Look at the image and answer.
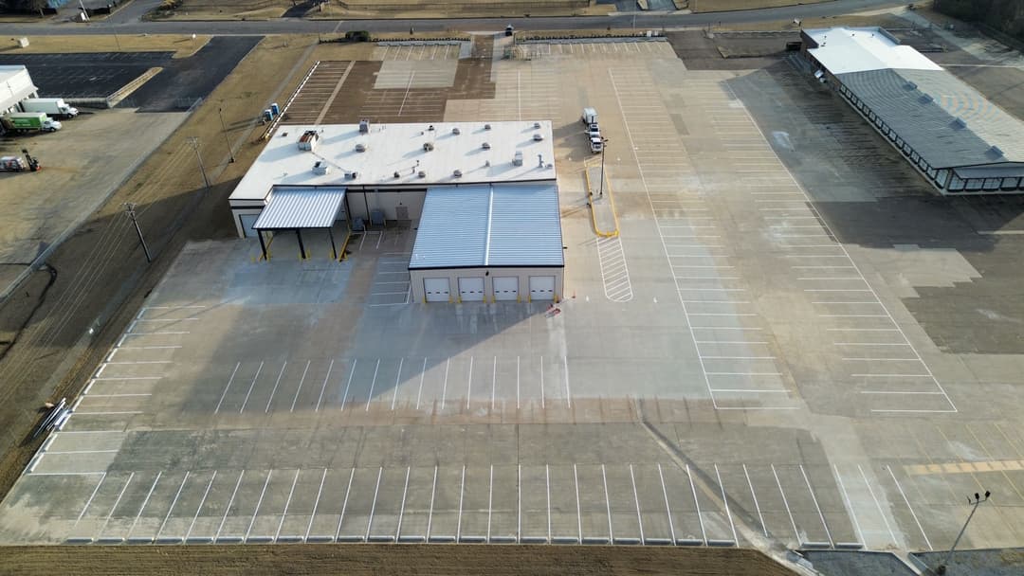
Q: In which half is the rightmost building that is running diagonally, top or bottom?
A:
top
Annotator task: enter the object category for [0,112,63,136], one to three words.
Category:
truck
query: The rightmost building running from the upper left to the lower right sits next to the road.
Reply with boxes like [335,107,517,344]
[796,27,1024,194]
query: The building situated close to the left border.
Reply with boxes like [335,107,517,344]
[0,68,44,114]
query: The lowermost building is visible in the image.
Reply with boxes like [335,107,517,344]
[406,183,567,303]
